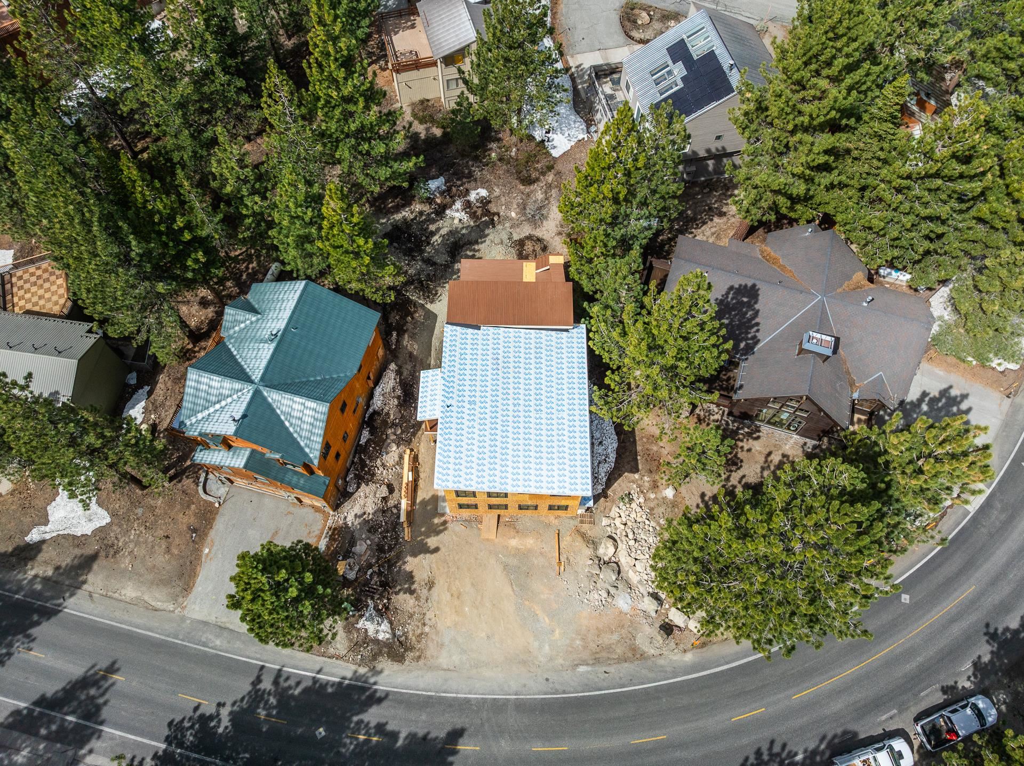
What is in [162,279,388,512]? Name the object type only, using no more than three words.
house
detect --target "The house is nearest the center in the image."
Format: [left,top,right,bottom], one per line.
[417,294,593,519]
